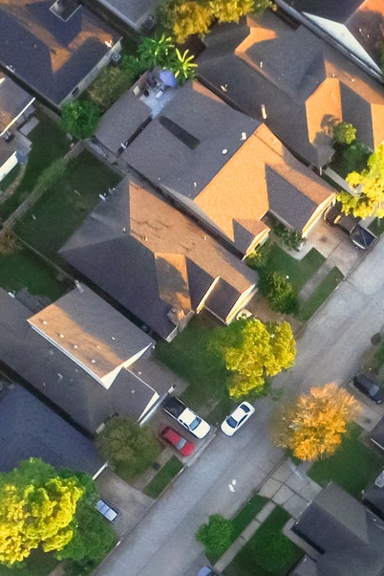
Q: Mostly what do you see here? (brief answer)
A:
buildings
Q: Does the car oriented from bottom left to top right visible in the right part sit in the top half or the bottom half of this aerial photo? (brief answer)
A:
bottom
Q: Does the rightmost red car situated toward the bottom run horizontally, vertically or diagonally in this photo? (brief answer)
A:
diagonally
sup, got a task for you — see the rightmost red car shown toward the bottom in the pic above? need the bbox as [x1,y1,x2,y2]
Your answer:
[155,422,198,459]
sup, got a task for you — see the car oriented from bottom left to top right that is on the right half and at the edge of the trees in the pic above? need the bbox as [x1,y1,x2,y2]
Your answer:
[219,398,258,439]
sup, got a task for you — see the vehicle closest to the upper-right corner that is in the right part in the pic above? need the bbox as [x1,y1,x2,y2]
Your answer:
[323,203,374,251]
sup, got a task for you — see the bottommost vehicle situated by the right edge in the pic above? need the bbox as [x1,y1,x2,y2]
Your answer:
[347,368,384,408]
